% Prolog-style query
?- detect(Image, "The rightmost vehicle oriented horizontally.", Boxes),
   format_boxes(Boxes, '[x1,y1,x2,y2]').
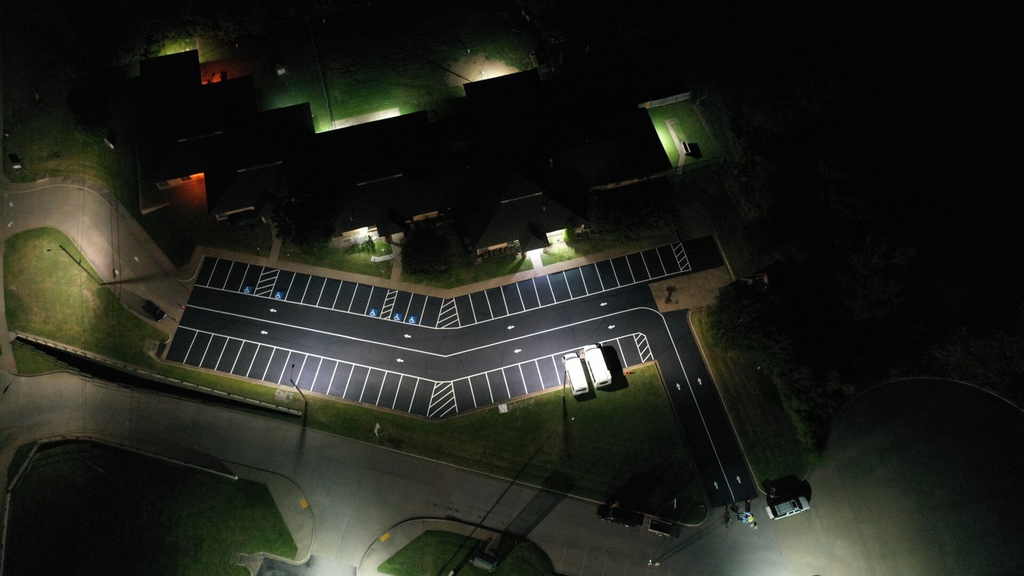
[769,497,814,520]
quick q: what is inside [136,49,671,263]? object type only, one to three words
building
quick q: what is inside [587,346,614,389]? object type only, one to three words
vehicle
